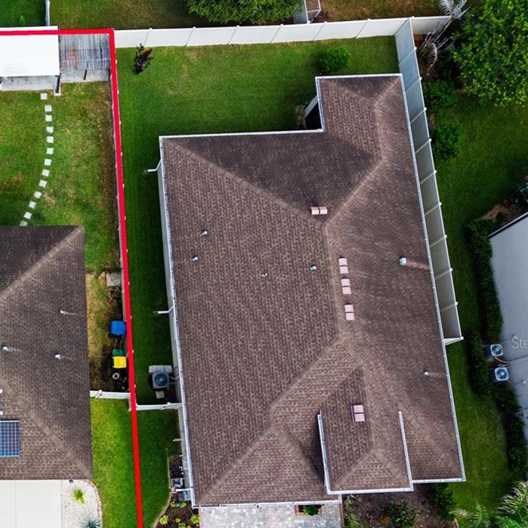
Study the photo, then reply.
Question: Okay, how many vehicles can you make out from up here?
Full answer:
The picture shows no vehicles.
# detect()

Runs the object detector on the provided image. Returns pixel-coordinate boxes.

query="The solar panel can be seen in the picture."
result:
[0,422,19,456]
